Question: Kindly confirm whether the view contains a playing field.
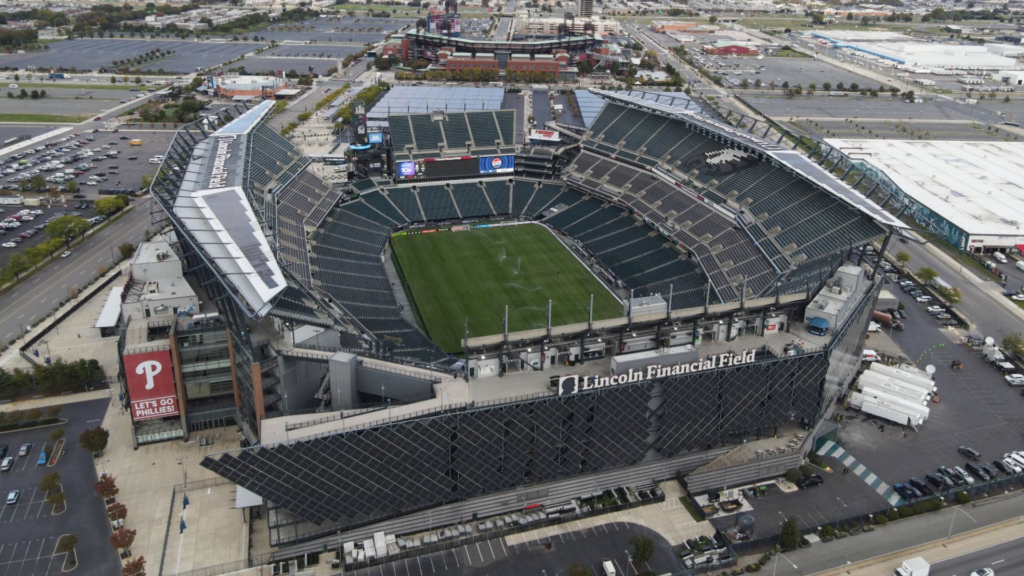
Yes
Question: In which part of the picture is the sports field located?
center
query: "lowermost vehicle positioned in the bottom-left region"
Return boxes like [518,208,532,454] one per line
[4,488,20,503]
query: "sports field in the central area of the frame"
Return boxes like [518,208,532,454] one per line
[392,223,627,344]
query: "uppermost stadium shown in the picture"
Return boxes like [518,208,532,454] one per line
[382,0,636,82]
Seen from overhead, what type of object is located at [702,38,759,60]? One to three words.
building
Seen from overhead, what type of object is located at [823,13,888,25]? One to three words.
building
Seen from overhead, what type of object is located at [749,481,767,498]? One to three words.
work vehicle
